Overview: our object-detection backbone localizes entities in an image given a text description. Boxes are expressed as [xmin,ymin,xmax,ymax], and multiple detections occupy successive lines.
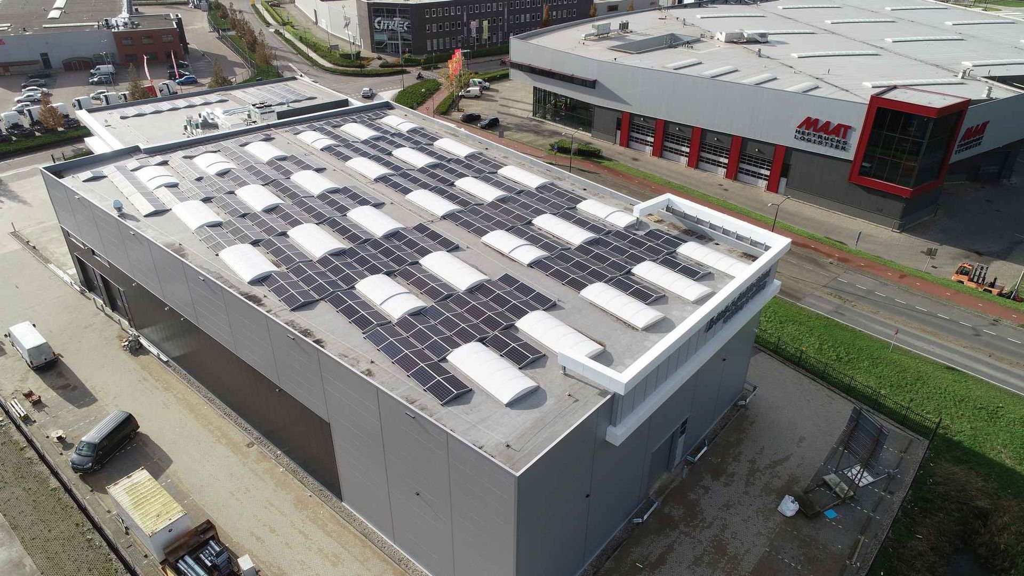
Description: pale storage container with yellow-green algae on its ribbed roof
[105,466,193,565]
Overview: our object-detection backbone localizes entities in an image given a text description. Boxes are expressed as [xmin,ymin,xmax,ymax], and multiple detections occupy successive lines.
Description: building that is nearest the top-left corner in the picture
[0,0,121,80]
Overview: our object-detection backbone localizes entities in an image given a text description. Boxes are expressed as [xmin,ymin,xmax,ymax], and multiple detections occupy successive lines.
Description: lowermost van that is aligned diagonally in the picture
[71,406,143,472]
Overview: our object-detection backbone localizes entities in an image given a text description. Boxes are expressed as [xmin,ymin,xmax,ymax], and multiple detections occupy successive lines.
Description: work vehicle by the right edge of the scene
[954,259,1008,295]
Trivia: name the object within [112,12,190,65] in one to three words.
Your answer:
building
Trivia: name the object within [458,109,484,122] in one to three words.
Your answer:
vehicle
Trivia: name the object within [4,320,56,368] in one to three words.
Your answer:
van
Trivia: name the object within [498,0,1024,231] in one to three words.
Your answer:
building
